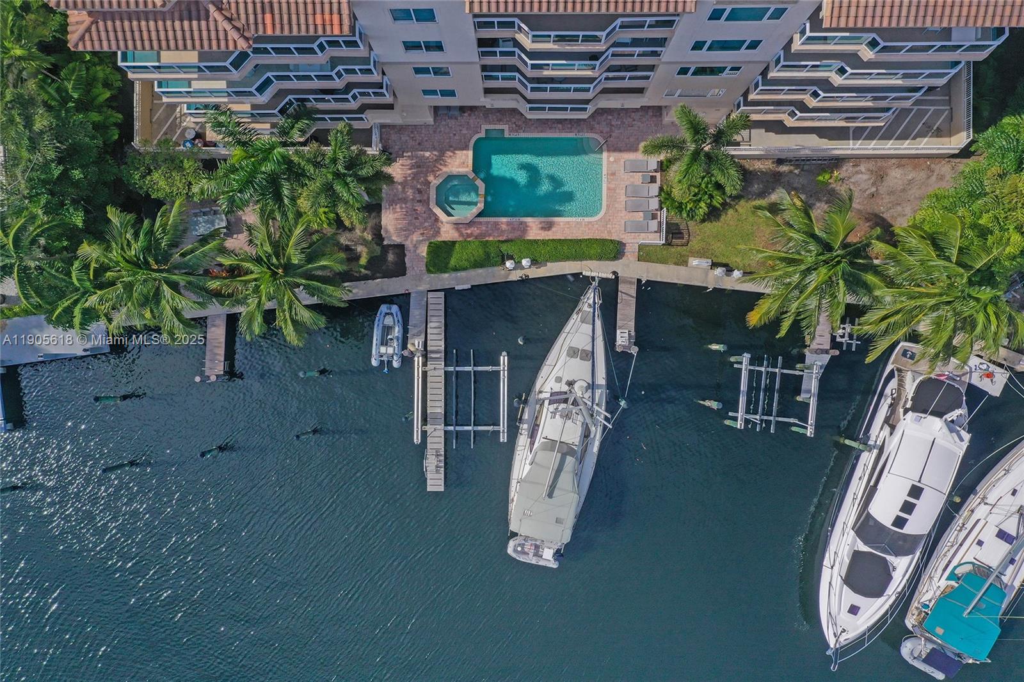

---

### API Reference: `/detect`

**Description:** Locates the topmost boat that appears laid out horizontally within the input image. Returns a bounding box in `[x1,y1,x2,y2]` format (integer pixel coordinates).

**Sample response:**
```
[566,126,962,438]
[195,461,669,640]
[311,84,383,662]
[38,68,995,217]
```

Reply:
[507,536,563,567]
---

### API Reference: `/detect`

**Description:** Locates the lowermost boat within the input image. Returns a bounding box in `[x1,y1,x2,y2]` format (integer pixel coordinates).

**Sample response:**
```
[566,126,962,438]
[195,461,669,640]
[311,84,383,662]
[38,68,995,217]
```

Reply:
[898,634,963,680]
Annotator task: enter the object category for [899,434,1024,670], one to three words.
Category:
boat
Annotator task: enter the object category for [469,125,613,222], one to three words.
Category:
swimming pool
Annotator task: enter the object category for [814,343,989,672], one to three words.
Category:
boat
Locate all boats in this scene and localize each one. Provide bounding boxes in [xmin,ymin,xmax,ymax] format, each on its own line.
[814,343,989,672]
[372,303,403,372]
[899,434,1024,670]
[898,634,963,680]
[508,273,613,555]
[507,536,563,567]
